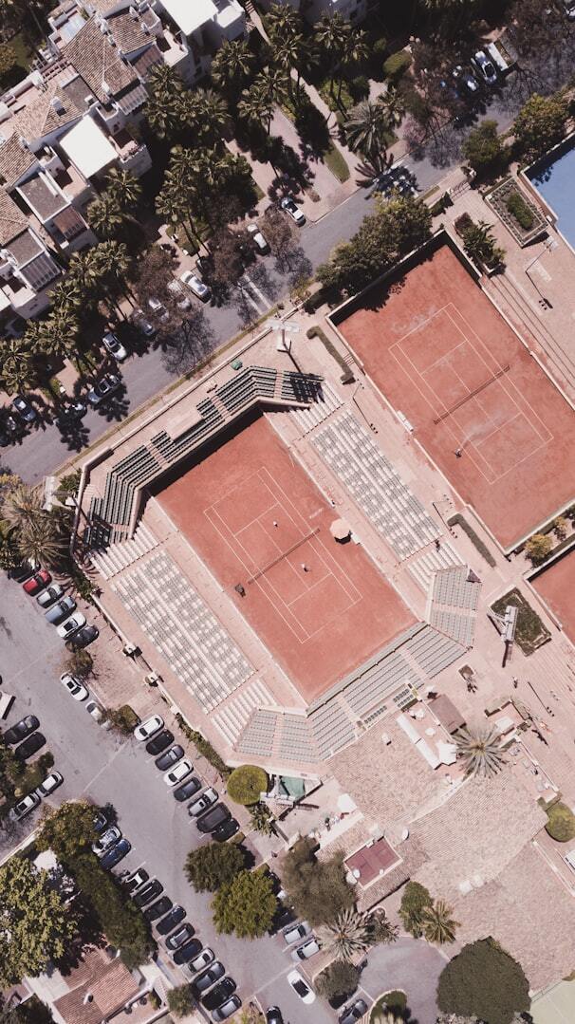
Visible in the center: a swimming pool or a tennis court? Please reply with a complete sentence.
Visible in the center is a tennis court.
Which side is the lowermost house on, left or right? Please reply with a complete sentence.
The lowermost house appears in the left half of the scene.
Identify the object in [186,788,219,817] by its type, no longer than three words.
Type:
car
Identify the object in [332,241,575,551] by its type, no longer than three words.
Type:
tennis court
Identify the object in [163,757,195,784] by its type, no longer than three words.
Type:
car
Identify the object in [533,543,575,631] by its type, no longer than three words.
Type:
tennis court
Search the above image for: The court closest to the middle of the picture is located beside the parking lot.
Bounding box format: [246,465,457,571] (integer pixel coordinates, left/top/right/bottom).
[146,407,417,703]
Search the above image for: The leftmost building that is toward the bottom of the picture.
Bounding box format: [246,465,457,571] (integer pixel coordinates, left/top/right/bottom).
[21,937,179,1024]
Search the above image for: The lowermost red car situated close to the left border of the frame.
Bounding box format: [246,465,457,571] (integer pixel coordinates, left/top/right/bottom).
[23,570,53,594]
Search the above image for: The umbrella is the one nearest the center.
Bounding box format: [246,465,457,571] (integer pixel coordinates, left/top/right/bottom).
[330,519,350,539]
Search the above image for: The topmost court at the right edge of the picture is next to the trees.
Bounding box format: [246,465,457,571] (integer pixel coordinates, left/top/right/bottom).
[528,143,575,236]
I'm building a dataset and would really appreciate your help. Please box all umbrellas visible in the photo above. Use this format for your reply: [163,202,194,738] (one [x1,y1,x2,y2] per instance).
[415,707,425,718]
[330,519,350,539]
[424,682,435,693]
[424,724,434,736]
